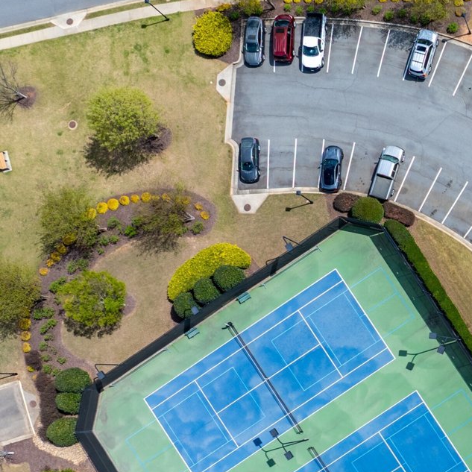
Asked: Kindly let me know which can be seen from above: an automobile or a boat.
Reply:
automobile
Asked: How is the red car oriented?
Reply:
up and down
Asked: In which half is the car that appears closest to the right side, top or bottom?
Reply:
top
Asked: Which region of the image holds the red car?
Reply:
top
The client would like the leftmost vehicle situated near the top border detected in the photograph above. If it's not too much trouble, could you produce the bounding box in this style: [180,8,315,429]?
[241,15,266,66]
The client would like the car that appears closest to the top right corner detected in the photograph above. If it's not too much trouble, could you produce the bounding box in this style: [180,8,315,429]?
[409,29,437,80]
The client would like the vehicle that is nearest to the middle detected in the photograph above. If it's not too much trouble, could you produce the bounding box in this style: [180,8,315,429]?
[237,136,261,184]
